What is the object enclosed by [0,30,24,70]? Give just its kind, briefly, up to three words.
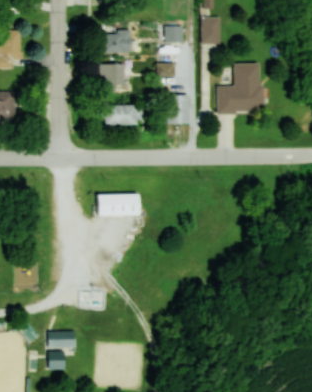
house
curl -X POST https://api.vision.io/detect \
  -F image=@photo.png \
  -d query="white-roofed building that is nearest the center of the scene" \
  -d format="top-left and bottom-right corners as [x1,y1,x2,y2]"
[98,193,142,217]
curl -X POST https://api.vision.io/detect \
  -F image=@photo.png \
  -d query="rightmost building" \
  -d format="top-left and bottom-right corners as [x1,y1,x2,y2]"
[218,62,264,112]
